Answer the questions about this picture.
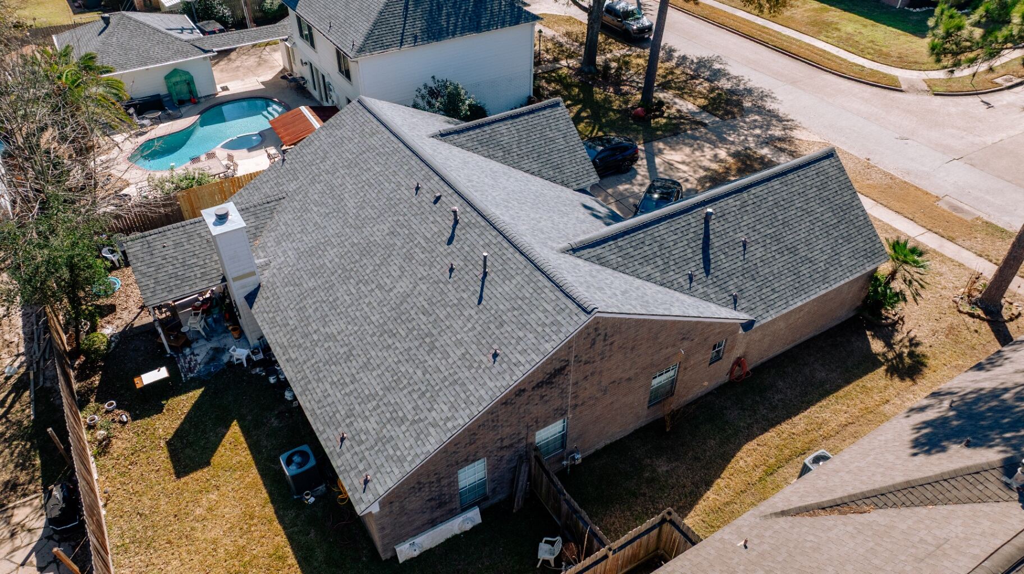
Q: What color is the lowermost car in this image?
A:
black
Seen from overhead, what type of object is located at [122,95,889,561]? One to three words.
house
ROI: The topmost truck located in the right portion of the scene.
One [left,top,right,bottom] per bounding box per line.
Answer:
[602,0,650,41]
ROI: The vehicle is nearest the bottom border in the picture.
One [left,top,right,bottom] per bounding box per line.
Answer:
[616,172,683,224]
